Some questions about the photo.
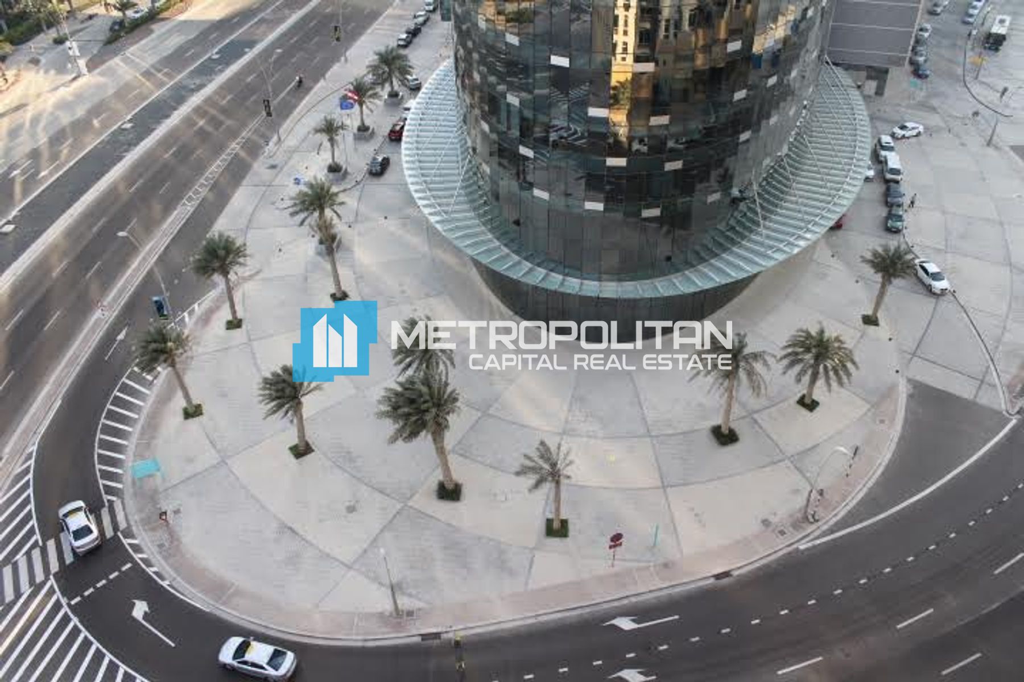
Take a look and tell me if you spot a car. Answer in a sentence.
Yes, the image includes a car.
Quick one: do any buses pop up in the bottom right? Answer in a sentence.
No, no bus appears in the bottom right.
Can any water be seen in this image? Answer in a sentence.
No, no water is visible.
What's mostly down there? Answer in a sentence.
Most of the picture is covered by paved ground.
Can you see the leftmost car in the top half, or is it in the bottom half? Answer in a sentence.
It is in the bottom half that the leftmost car appears.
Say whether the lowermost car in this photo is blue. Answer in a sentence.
No, from above the lowermost car looks white.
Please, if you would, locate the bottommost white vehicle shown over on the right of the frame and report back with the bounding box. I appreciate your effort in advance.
[914,263,948,293]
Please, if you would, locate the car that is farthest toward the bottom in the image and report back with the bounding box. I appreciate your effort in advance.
[220,635,296,681]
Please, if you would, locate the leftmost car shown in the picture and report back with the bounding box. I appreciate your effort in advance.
[59,502,99,553]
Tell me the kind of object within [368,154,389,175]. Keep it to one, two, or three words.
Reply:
car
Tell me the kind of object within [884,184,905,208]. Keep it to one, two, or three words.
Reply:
car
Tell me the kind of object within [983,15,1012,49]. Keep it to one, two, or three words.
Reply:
bus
